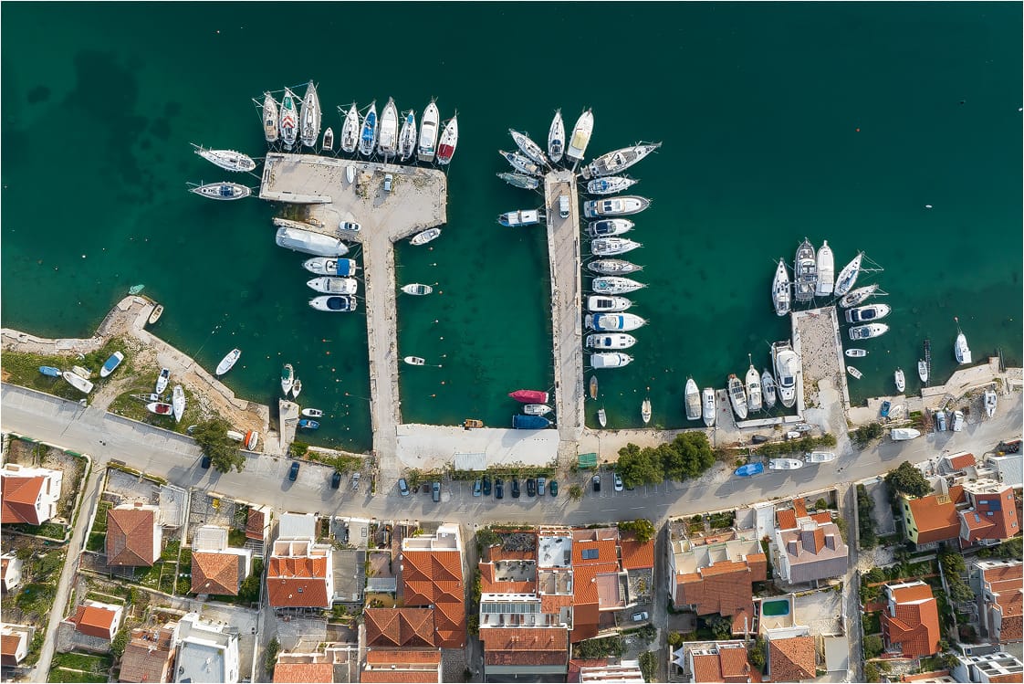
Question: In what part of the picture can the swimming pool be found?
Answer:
bottom right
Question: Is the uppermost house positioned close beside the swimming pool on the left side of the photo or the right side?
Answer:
right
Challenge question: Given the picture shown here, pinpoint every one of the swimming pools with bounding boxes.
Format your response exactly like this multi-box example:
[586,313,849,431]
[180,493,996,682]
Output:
[759,592,792,632]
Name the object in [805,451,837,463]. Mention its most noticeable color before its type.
white boat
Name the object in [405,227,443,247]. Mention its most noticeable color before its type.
white boat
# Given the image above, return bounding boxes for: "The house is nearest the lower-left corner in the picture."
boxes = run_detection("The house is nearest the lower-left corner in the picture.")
[0,620,35,664]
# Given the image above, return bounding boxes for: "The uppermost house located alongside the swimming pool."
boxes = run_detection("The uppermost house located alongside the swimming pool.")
[774,497,847,584]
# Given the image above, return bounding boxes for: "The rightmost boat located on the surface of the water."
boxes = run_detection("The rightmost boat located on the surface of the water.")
[956,334,975,364]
